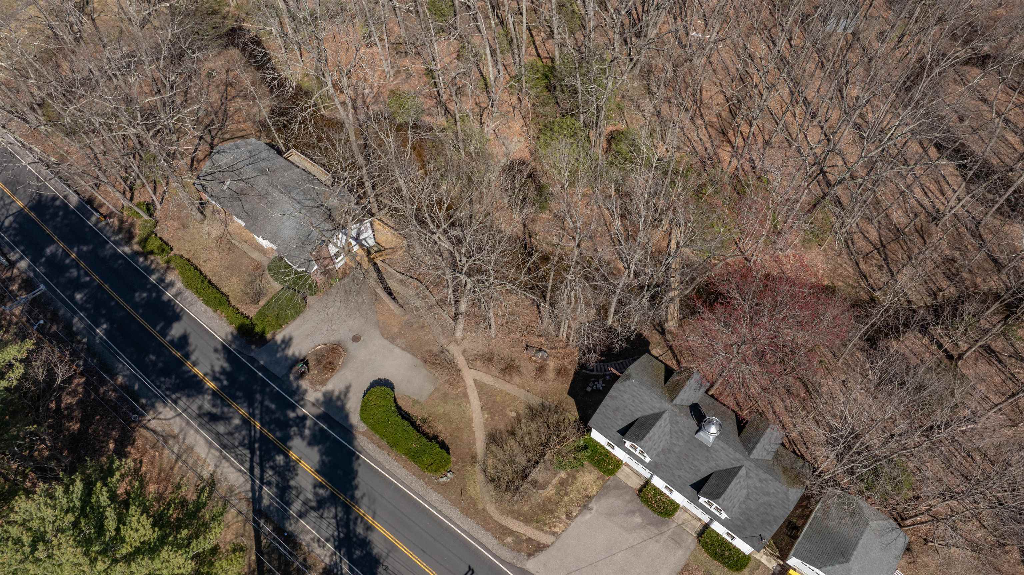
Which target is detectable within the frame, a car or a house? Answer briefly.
house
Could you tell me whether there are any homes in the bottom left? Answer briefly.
No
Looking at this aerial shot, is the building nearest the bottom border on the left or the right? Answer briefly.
right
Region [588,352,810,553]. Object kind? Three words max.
house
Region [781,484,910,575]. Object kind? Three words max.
building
